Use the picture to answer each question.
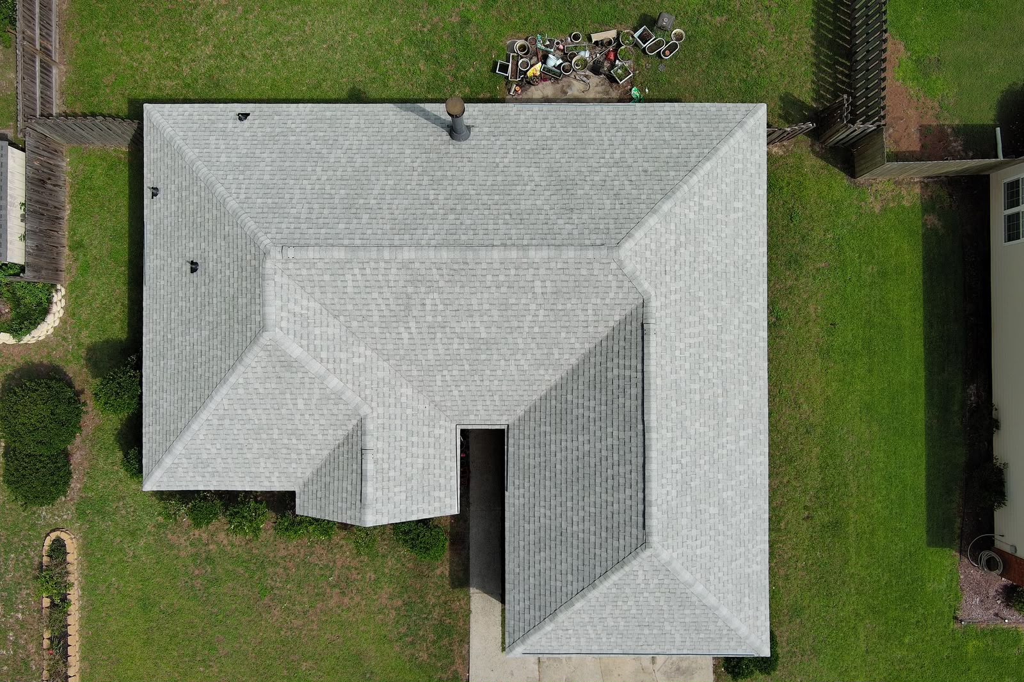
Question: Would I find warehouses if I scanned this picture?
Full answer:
No, this view has no warehouse in it.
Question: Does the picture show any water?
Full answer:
No, the picture contains no water.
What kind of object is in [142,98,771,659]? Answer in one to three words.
house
